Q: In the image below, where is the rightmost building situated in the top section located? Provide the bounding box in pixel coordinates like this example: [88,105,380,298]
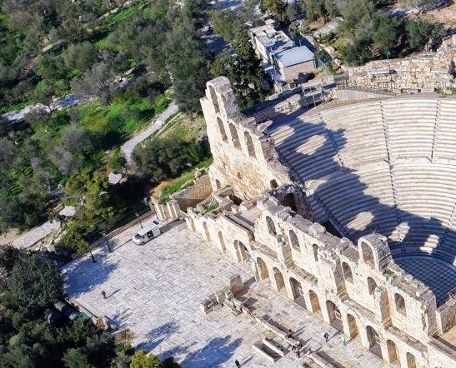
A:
[274,43,317,76]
